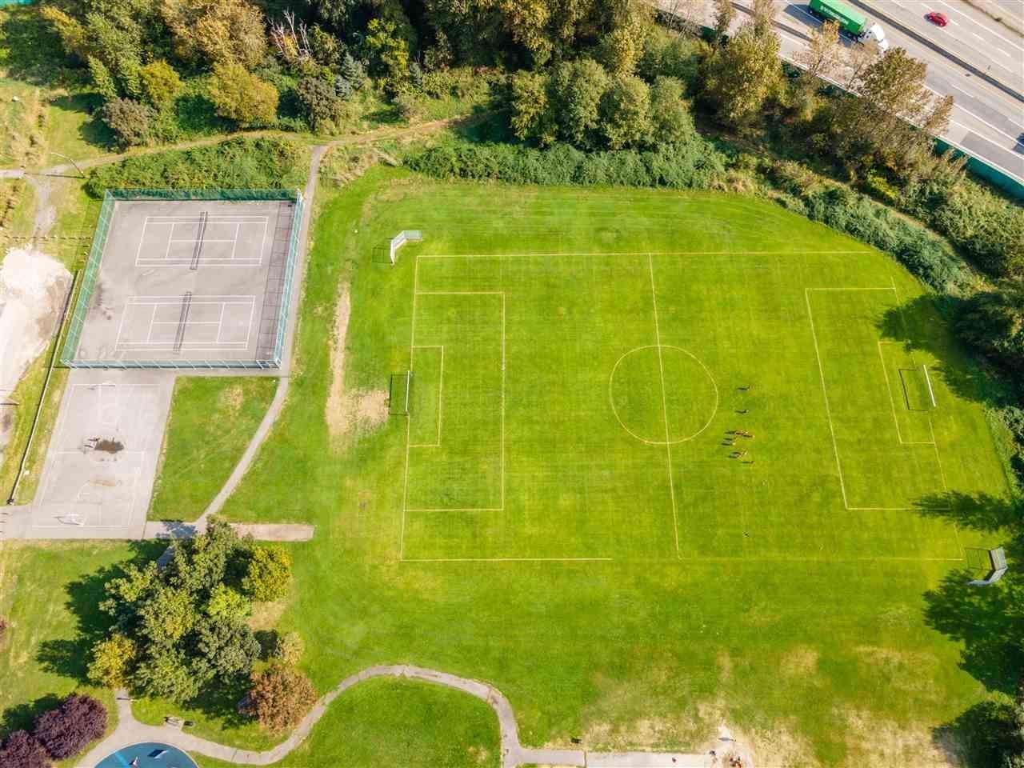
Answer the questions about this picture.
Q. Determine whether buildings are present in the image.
No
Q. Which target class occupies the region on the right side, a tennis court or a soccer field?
soccer field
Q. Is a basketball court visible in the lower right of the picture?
No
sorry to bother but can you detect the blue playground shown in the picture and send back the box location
[100,740,192,768]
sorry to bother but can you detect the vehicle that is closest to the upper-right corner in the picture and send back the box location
[928,11,950,25]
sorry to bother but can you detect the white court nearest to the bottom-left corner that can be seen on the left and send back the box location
[32,371,174,539]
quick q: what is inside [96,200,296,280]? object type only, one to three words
tennis court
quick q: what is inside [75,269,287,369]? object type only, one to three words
tennis court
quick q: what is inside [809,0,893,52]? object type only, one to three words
truck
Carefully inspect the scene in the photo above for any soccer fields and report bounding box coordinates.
[393,249,963,567]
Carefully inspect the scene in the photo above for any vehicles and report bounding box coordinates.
[928,11,950,25]
[809,0,893,52]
